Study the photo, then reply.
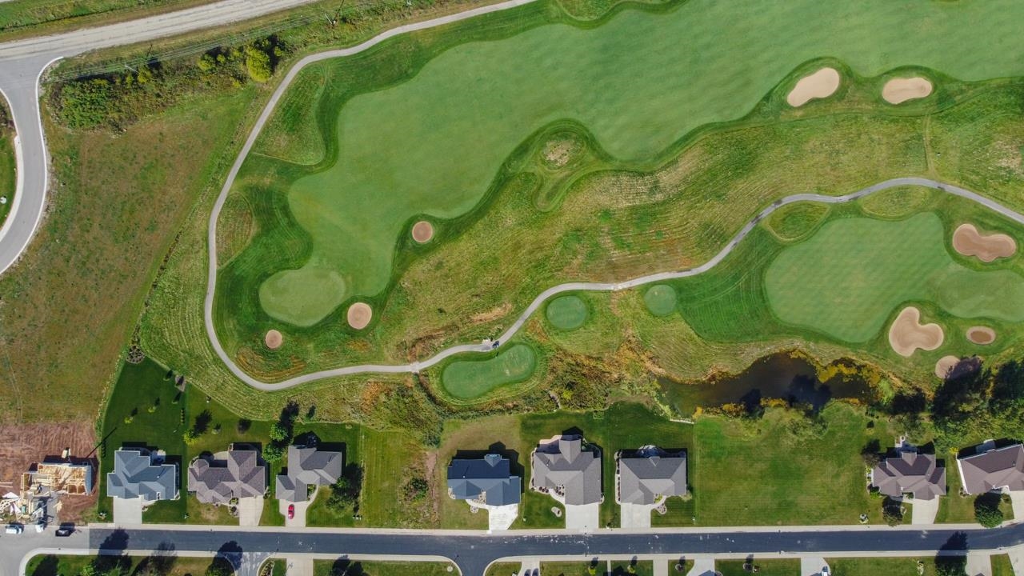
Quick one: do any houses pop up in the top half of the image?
No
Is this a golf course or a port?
golf course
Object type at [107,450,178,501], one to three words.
house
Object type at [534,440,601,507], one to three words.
house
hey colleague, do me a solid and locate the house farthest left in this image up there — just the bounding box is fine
[17,465,91,498]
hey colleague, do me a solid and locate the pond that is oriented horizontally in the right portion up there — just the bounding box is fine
[655,353,879,417]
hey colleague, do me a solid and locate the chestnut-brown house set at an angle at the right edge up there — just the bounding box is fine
[954,445,1024,498]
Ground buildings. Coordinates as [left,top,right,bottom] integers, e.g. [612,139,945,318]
[17,465,91,498]
[870,452,946,500]
[447,454,522,509]
[620,456,686,505]
[276,446,343,502]
[534,440,601,507]
[107,450,178,501]
[188,450,266,503]
[954,445,1024,498]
